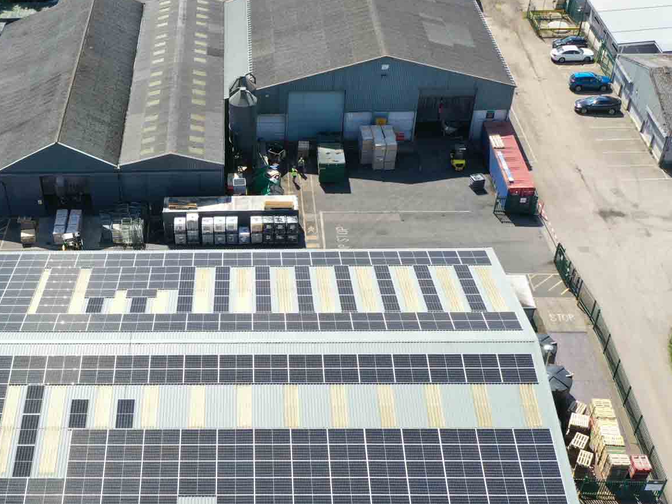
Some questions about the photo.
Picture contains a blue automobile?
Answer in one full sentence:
Yes, the picture does show a blue automobile.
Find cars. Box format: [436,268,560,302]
[569,72,612,92]
[553,30,591,47]
[576,96,624,115]
[552,45,593,62]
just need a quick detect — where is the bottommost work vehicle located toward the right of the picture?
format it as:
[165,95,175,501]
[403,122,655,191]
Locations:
[451,141,466,168]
